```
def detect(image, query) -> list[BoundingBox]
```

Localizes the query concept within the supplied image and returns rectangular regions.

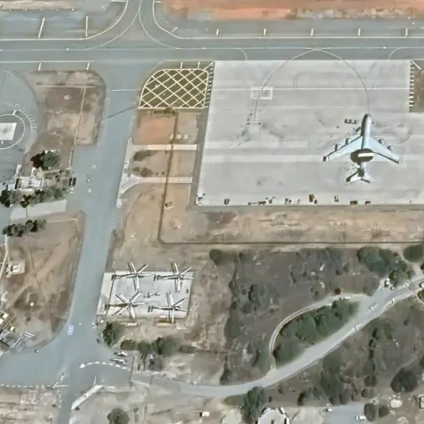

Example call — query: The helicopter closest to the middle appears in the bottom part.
[153,259,196,291]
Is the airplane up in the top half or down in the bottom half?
top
